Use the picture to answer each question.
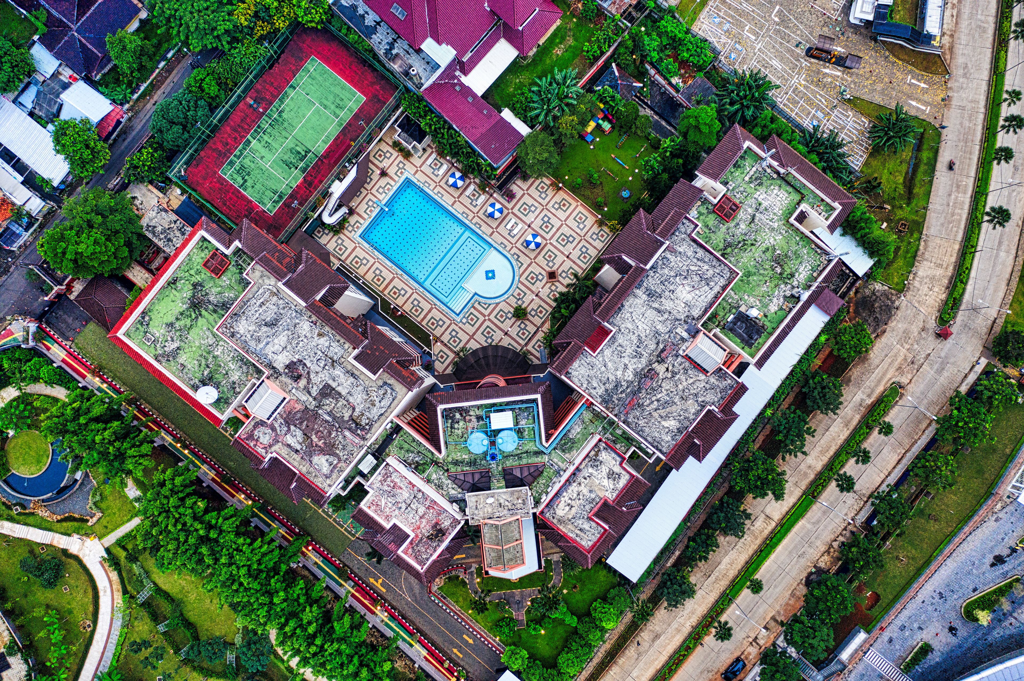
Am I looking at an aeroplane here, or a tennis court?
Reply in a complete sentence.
This aerial view contains a tennis court.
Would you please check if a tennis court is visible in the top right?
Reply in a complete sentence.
No, no tennis court appears in the top right.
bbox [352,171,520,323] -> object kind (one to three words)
swimming pool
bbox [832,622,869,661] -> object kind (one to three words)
house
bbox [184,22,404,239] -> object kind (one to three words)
tennis court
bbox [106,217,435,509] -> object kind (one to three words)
building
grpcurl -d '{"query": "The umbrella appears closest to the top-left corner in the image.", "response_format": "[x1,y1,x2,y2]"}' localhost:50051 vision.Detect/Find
[449,172,465,188]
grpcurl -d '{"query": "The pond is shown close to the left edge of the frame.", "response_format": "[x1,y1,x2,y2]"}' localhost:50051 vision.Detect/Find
[0,425,83,508]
